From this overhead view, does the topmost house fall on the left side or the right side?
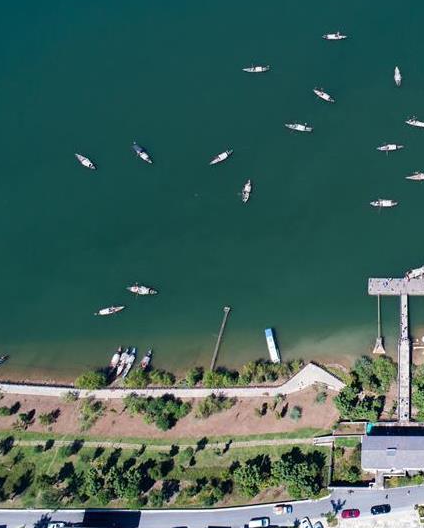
right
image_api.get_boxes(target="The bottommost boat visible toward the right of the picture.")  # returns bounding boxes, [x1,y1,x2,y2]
[264,328,281,364]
